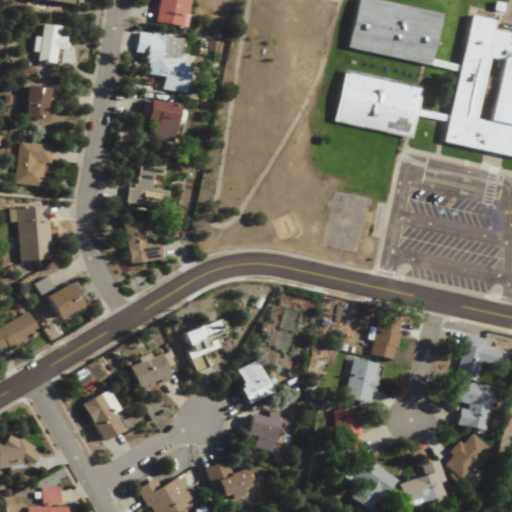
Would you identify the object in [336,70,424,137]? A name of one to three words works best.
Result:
building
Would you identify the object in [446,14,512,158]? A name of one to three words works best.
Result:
building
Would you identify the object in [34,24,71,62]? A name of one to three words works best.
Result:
house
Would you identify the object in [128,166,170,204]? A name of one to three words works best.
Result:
house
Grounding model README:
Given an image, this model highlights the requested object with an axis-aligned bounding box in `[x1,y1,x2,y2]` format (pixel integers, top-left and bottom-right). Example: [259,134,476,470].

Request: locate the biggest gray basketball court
[324,192,368,252]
